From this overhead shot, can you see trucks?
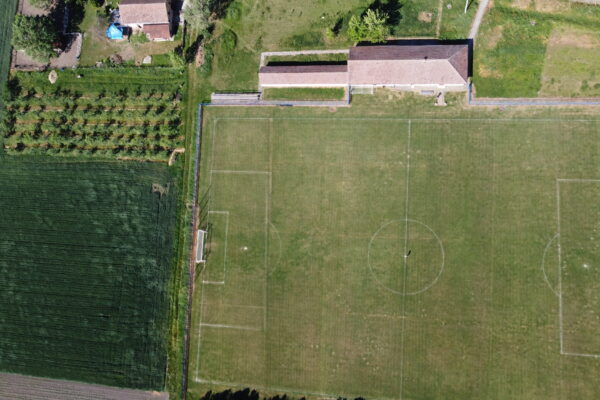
No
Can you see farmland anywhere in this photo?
Yes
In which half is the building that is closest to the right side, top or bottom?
top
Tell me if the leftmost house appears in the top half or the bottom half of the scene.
top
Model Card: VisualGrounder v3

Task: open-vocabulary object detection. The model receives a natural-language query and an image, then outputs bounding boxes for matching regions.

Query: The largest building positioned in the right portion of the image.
[347,44,469,89]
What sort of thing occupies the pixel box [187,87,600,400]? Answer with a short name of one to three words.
soccer field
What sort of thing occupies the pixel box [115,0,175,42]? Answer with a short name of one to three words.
house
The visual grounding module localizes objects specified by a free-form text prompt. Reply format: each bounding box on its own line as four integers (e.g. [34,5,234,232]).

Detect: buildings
[115,0,175,42]
[347,44,469,89]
